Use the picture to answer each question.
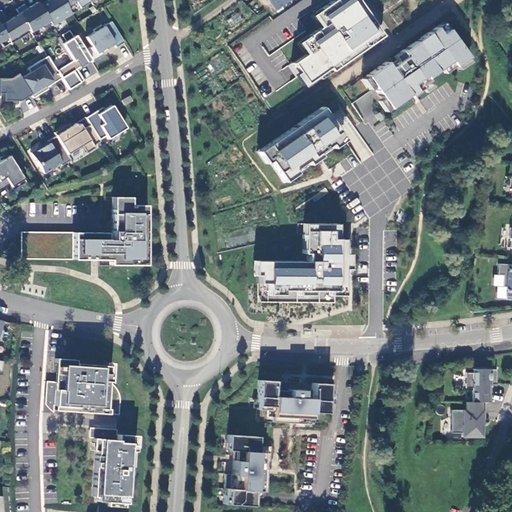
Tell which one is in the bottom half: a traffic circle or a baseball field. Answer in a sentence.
Looking in the bottom half, you will find a traffic circle.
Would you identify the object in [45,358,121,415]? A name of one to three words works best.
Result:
building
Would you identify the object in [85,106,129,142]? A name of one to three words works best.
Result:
house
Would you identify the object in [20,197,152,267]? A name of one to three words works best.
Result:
building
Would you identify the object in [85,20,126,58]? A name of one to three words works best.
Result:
house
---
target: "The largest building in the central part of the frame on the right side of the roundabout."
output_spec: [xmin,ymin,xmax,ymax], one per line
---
[250,222,356,304]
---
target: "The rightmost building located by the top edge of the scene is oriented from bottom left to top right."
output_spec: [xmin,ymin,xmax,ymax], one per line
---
[358,19,475,116]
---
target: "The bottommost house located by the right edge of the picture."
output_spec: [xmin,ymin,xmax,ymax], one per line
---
[450,369,498,438]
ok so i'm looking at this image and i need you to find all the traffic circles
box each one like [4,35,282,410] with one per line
[122,270,258,405]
